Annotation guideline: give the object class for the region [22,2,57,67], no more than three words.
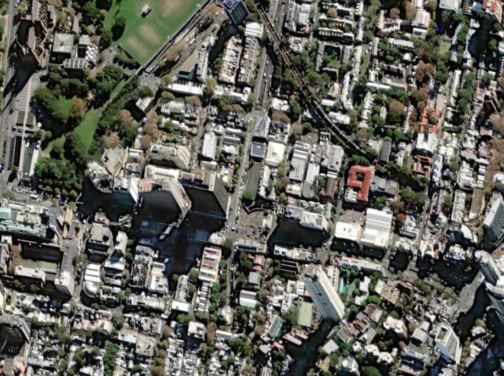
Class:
building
